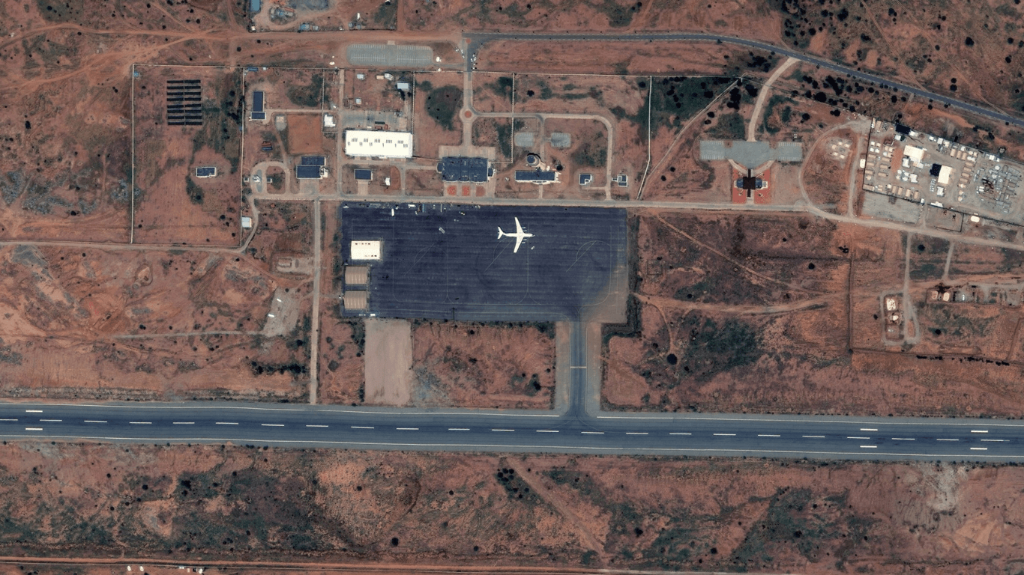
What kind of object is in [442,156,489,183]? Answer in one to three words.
building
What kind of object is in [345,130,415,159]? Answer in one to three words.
hangar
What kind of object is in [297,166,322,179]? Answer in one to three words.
building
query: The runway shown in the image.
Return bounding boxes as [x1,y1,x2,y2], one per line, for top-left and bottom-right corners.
[0,401,1024,463]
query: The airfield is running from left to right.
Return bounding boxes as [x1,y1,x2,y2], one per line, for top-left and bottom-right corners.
[0,203,1024,463]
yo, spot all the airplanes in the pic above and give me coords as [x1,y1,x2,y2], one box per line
[498,216,535,252]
